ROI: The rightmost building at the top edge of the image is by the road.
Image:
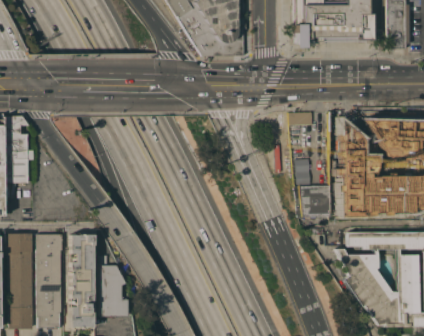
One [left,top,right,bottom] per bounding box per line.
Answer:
[382,0,410,52]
